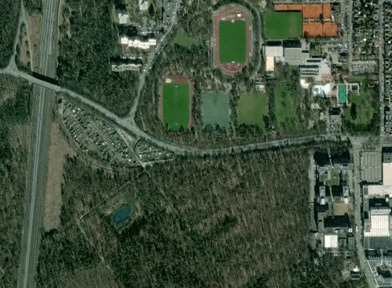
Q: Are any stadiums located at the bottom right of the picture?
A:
No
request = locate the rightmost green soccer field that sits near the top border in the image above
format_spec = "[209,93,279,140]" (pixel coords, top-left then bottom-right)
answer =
[265,12,301,38]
